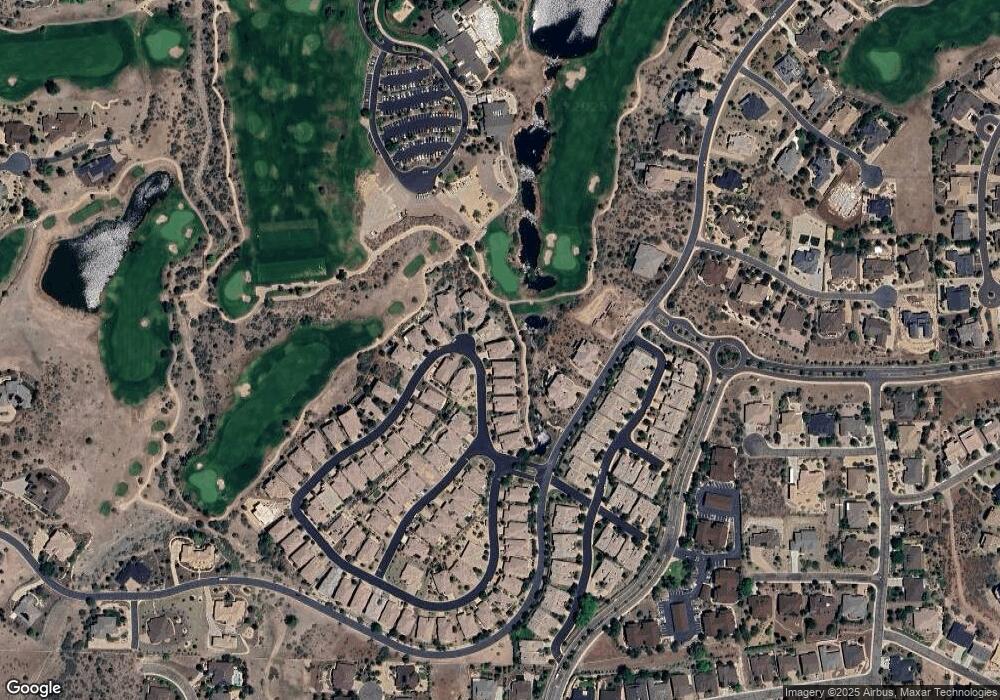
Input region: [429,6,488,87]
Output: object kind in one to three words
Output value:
building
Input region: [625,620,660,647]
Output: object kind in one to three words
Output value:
building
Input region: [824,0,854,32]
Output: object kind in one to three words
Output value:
house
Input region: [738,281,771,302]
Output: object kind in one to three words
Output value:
house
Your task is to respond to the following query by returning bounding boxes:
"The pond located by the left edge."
[41,171,171,310]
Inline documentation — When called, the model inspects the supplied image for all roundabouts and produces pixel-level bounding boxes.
[708,338,749,377]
